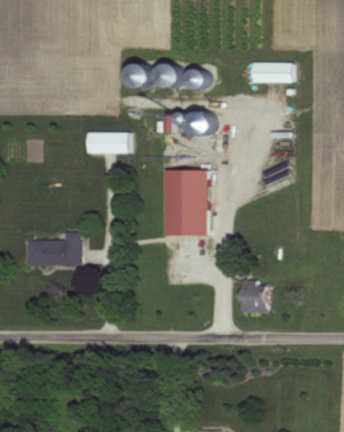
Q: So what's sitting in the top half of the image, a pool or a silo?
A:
silo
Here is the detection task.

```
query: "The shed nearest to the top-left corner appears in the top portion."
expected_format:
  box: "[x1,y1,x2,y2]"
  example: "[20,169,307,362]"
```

[84,132,134,154]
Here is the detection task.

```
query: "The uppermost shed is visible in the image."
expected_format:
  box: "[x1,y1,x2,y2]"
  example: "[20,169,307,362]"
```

[250,62,298,83]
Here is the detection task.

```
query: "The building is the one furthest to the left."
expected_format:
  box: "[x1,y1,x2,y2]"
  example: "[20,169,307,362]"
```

[28,231,84,266]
